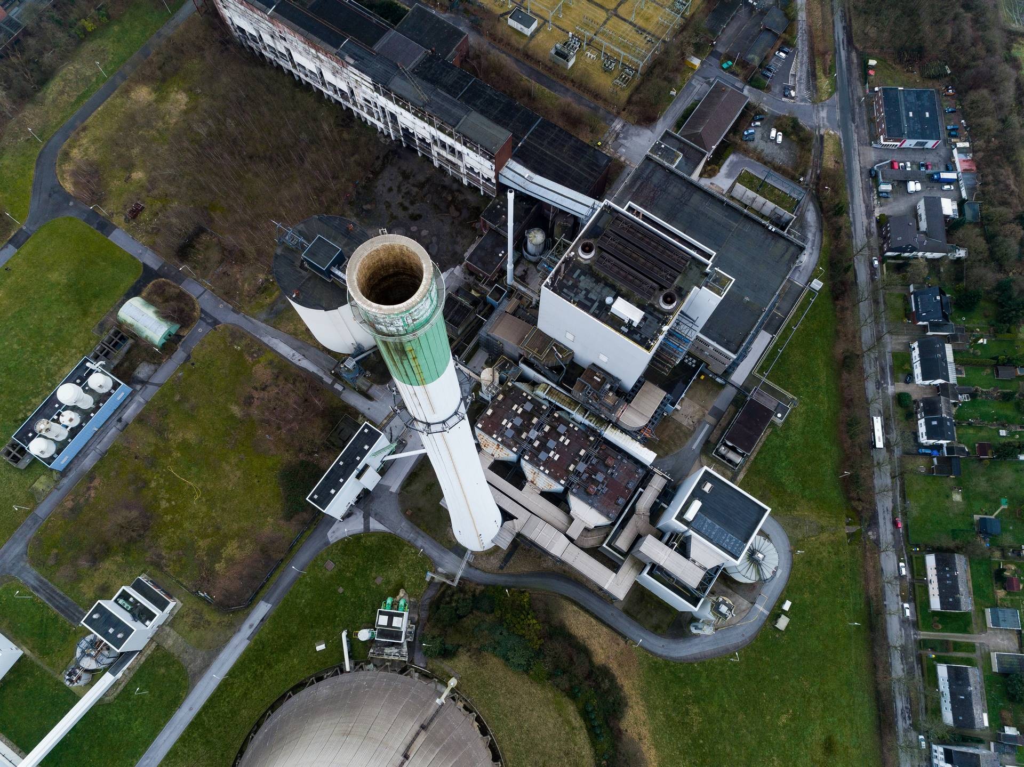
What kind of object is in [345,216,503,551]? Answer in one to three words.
chimney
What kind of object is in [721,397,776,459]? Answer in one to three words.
building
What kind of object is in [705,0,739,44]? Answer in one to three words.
shed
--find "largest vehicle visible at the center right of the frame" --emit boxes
[872,414,887,448]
